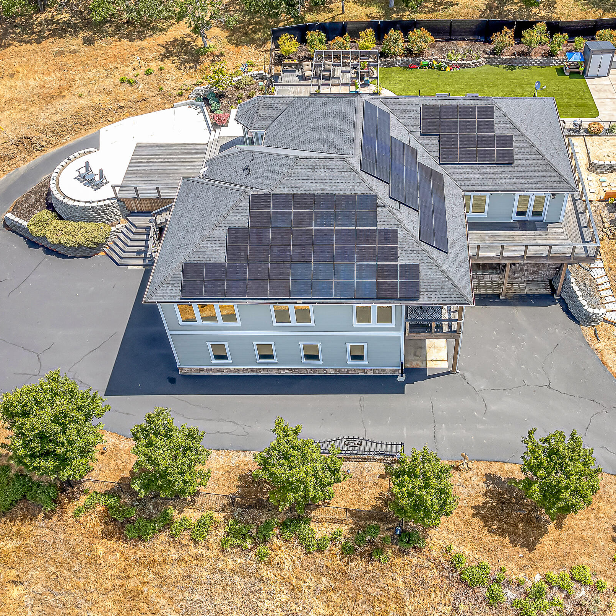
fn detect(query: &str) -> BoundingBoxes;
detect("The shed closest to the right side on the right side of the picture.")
[587,44,616,78]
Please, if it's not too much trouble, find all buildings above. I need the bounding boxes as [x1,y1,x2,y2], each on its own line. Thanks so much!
[142,86,579,384]
[587,44,616,78]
